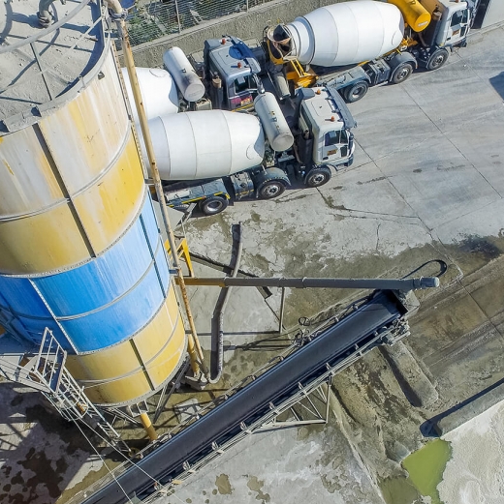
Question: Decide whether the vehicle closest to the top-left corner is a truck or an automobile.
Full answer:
The vehicle closest to the top-left corner in the image is a truck.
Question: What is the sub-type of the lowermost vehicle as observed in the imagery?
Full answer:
The lowermost vehicle can be classified as a truck.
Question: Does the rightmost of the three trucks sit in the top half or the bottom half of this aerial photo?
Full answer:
The rightmost of the three trucks sits in the top half of the picture.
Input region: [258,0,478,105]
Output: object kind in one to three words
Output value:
truck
